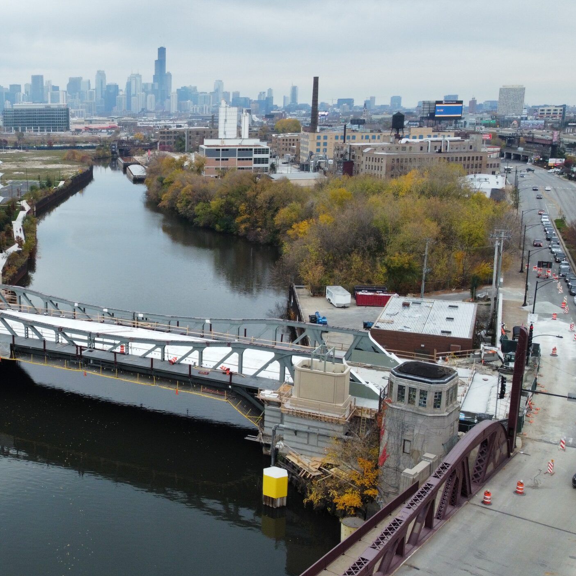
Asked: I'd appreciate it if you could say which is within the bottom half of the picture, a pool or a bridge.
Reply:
bridge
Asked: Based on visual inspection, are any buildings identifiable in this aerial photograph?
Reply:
Yes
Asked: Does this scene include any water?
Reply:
Yes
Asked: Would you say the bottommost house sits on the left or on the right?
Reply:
right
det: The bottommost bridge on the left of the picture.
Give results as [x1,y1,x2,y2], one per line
[0,284,395,401]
